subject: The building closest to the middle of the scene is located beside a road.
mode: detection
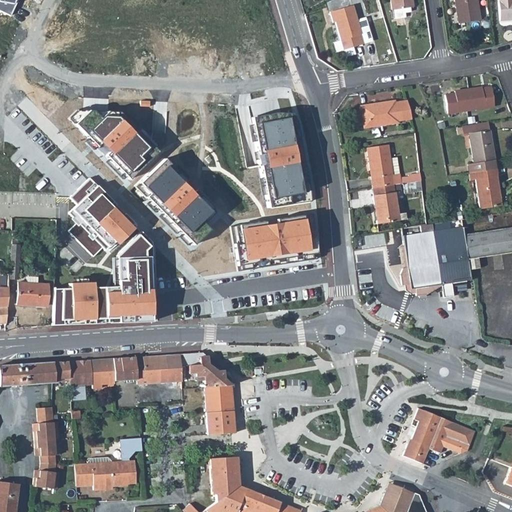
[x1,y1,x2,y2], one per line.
[229,214,322,276]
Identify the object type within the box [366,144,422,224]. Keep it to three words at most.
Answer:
house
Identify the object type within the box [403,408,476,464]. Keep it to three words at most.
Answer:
building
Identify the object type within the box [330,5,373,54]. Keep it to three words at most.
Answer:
house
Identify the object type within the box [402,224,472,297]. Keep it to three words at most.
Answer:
building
